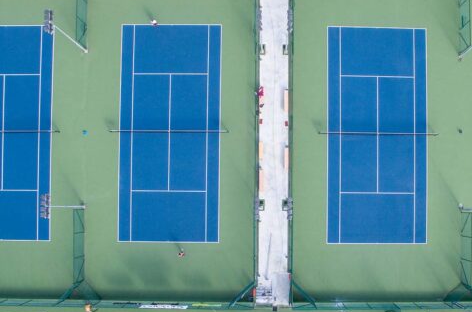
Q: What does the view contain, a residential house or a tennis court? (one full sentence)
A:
This aerial view contains a tennis court.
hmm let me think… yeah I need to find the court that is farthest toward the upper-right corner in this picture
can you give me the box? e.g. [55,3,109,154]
[326,26,427,244]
